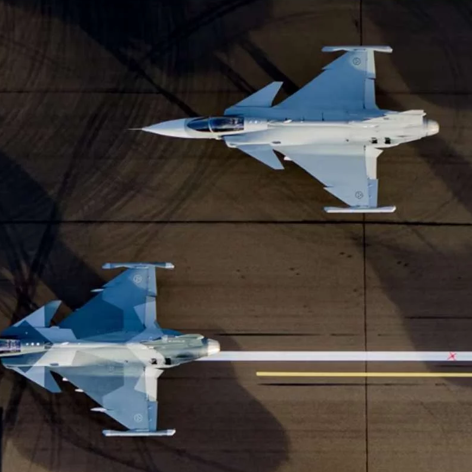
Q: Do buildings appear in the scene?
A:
No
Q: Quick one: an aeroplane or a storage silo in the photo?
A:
aeroplane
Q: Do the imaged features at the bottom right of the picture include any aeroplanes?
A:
No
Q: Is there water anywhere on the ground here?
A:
No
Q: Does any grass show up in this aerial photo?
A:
No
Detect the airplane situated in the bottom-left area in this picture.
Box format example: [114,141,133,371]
[0,262,220,437]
